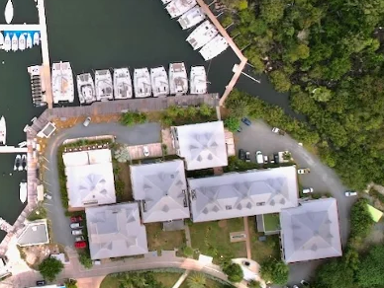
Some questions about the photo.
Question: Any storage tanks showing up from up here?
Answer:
No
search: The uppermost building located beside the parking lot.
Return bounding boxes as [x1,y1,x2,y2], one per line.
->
[169,120,235,171]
